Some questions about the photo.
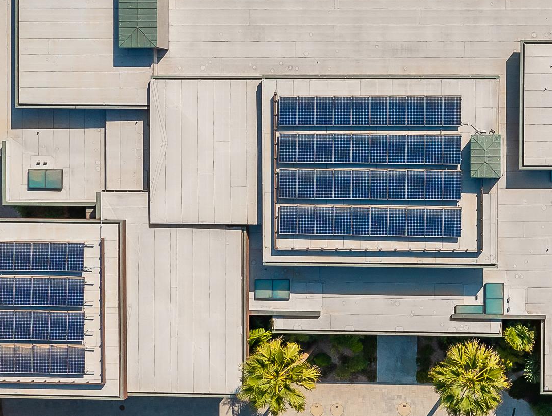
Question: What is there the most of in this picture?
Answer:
buildings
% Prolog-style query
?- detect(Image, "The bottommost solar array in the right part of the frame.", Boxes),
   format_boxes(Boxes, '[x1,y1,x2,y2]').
[279,206,462,236]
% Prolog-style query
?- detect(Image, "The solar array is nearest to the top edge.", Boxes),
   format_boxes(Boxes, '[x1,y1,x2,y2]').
[279,96,461,125]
